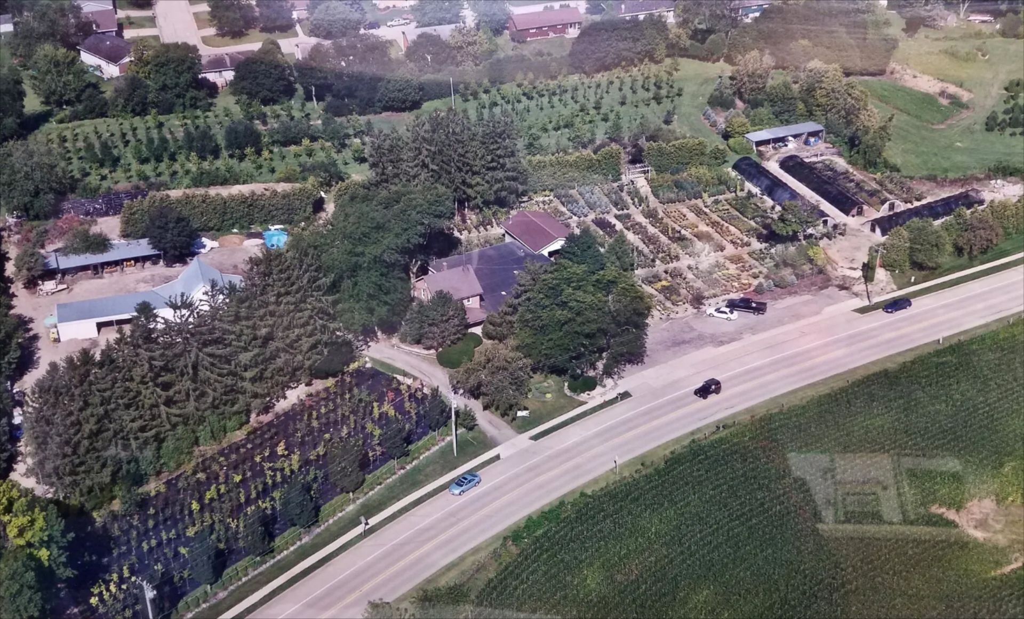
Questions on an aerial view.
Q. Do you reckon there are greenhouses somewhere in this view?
Yes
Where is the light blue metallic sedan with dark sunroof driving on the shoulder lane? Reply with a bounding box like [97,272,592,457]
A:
[447,470,484,496]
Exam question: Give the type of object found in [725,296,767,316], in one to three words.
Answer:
vehicle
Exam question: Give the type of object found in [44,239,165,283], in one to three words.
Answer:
shed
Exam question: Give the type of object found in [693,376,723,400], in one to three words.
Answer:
car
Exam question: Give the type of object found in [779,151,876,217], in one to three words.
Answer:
greenhouse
